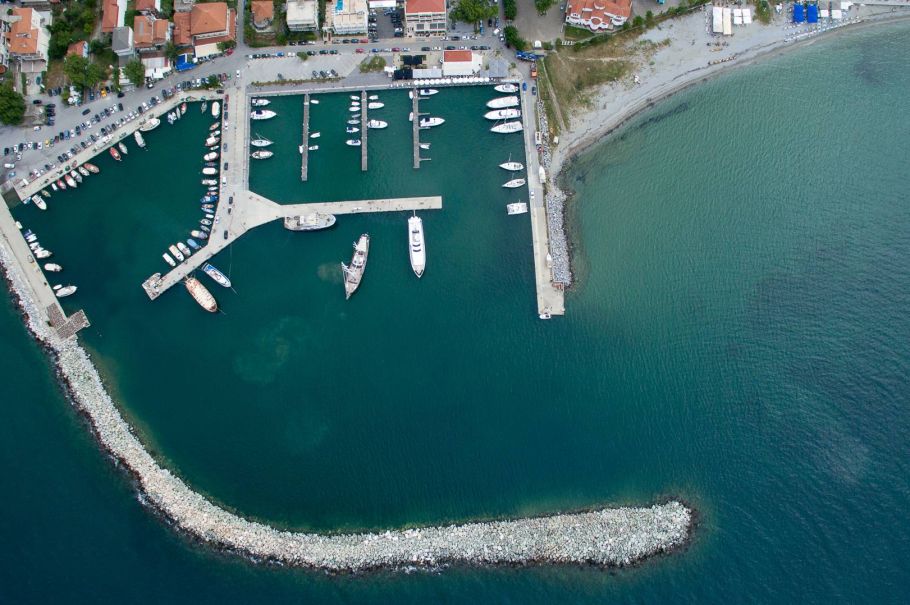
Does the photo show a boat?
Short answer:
Yes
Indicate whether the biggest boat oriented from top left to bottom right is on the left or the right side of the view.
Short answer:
left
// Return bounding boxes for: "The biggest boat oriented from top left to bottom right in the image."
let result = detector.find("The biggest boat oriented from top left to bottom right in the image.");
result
[182,275,218,314]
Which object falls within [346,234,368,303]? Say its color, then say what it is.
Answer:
white ship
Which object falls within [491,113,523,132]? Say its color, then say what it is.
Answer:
white boat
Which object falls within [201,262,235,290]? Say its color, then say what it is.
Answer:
white boat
